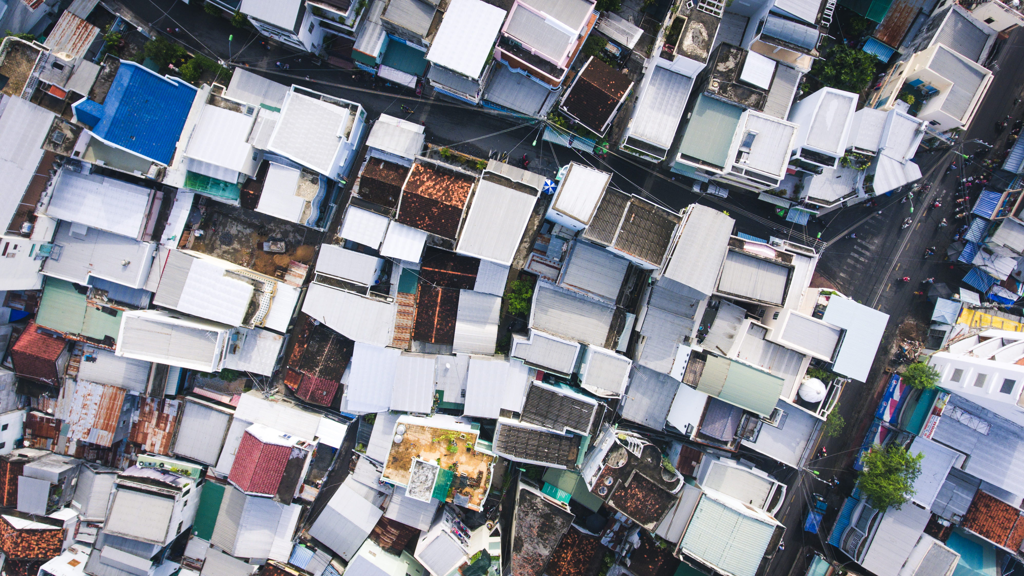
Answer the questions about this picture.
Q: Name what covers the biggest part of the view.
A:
buildings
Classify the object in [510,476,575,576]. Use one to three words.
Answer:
house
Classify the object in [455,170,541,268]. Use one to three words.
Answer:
house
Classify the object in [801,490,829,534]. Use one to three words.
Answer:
truck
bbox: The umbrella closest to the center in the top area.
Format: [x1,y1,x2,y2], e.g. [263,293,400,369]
[542,180,557,195]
